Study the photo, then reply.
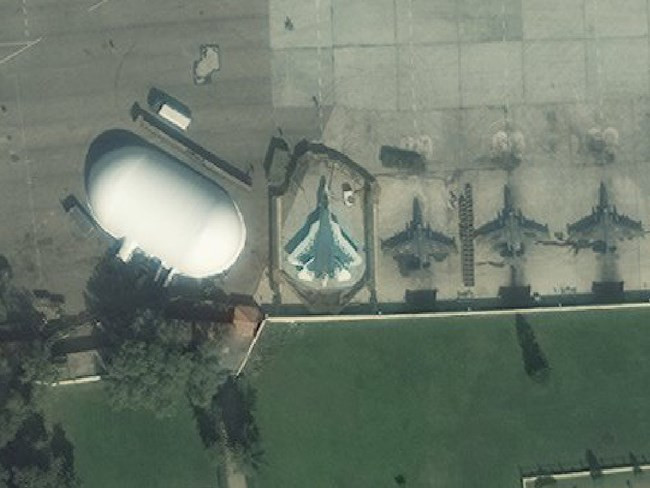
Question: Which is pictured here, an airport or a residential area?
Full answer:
What you see here is an airport.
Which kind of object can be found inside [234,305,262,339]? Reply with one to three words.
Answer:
shed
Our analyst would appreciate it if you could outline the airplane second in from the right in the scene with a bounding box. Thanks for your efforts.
[477,188,553,270]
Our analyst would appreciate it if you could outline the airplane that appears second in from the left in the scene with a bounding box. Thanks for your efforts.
[385,201,462,282]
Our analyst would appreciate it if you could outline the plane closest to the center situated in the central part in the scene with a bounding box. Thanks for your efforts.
[289,182,362,287]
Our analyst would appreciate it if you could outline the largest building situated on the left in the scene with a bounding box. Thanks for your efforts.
[86,143,249,291]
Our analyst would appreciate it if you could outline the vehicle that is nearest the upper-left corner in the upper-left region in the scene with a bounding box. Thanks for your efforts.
[147,98,192,129]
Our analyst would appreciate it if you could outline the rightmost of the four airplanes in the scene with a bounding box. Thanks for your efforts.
[569,185,646,268]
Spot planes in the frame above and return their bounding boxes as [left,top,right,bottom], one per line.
[385,201,462,282]
[477,188,553,270]
[289,182,362,287]
[569,185,646,268]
